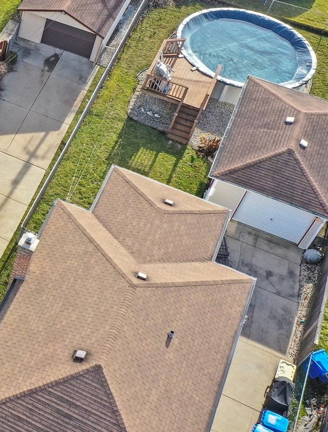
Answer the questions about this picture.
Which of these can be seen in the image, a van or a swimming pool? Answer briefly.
swimming pool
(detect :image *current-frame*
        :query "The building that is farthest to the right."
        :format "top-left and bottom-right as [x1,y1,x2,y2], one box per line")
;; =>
[203,74,328,248]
